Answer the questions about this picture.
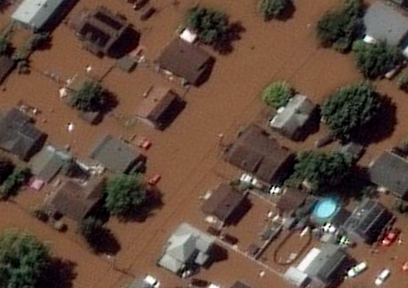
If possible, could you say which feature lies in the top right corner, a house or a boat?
house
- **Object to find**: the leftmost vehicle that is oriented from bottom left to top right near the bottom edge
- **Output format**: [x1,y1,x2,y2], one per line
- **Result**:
[347,262,366,279]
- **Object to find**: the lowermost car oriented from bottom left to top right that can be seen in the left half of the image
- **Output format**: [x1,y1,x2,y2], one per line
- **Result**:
[146,173,163,187]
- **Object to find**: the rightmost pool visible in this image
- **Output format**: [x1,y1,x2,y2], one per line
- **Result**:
[314,198,338,221]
